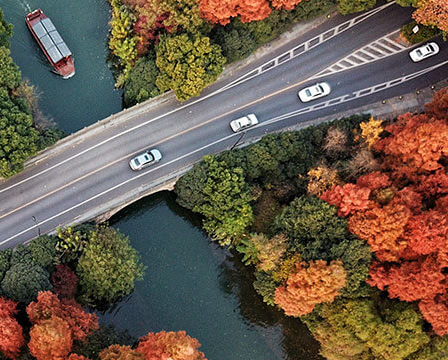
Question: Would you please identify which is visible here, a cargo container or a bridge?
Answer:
bridge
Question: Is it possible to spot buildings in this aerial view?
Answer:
No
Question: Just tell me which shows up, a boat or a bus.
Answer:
boat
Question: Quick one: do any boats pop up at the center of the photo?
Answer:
No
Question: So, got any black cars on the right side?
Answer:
No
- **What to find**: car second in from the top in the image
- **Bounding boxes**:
[298,80,333,102]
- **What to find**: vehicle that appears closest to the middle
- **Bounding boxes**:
[230,110,260,132]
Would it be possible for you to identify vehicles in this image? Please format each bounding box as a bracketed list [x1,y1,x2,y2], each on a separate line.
[129,147,163,169]
[410,39,443,61]
[230,110,260,132]
[298,80,333,102]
